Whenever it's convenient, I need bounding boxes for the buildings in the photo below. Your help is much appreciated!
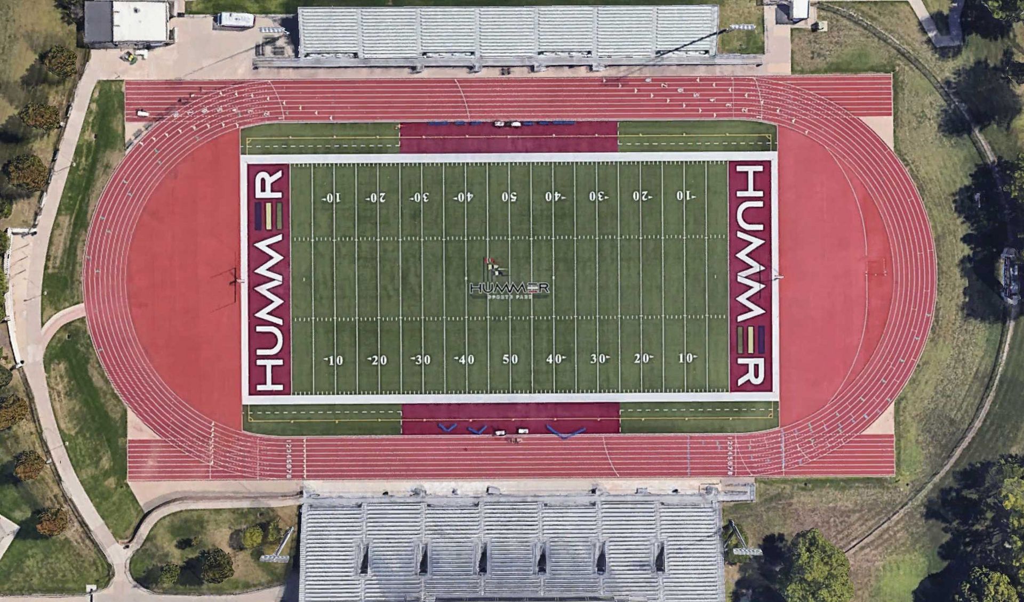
[112,0,179,45]
[790,0,809,18]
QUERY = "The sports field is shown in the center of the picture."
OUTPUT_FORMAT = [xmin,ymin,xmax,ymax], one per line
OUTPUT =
[240,122,780,434]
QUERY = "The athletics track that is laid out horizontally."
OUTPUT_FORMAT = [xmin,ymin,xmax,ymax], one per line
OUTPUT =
[83,76,936,480]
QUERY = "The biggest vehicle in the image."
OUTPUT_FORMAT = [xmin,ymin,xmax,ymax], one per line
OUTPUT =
[217,12,253,27]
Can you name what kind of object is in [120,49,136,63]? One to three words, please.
vehicle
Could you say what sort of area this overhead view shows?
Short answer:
sports ground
